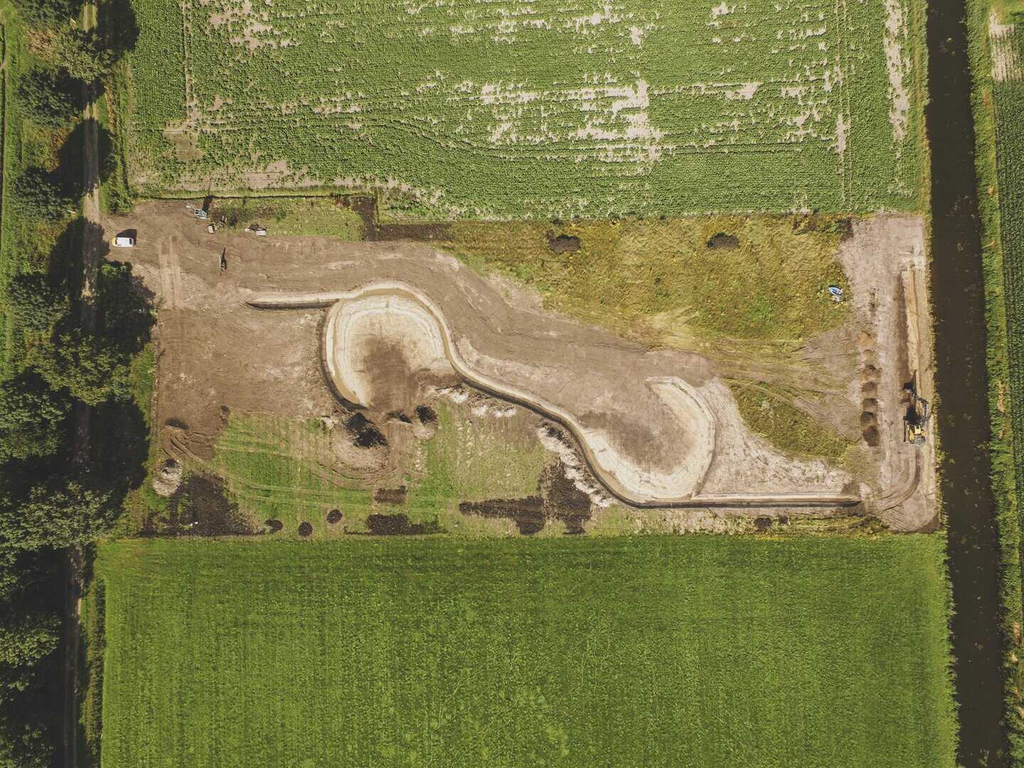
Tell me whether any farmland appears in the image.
Yes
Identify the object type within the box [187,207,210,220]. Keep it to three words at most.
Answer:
vehicle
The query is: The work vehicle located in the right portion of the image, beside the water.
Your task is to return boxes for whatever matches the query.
[903,388,932,443]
